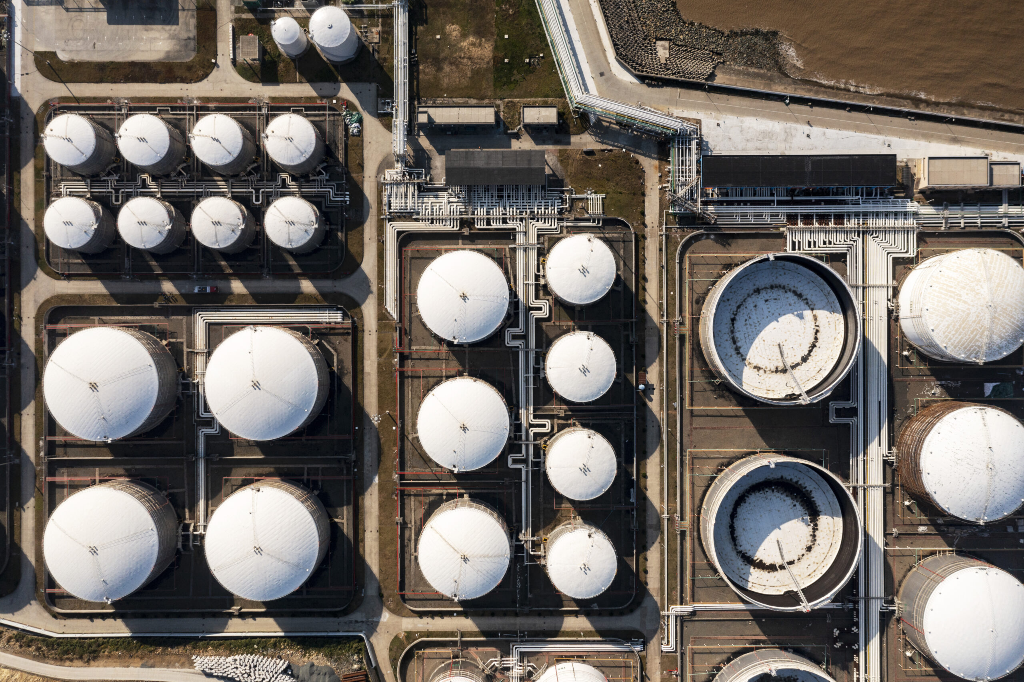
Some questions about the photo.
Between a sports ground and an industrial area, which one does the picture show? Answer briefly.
industrial area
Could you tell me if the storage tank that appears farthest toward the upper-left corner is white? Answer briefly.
Yes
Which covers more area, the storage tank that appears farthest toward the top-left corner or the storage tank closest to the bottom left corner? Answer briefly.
the storage tank closest to the bottom left corner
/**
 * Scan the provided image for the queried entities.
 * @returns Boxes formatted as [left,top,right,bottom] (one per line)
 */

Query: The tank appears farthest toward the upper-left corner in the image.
[39,112,117,175]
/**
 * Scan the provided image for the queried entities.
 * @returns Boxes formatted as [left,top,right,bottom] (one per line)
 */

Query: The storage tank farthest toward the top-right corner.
[897,246,1024,366]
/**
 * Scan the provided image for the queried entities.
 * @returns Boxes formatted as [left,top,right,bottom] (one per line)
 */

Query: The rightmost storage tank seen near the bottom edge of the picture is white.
[898,552,1024,682]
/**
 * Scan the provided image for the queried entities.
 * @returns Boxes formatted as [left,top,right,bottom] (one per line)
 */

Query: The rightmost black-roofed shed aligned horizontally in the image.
[699,154,896,192]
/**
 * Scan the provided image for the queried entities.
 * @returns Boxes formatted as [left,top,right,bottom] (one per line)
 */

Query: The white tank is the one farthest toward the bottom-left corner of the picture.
[42,479,179,605]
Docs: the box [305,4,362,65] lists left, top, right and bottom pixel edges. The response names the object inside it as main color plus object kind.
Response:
white storage tank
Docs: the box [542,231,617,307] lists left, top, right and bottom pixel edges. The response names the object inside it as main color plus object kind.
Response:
white storage tank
